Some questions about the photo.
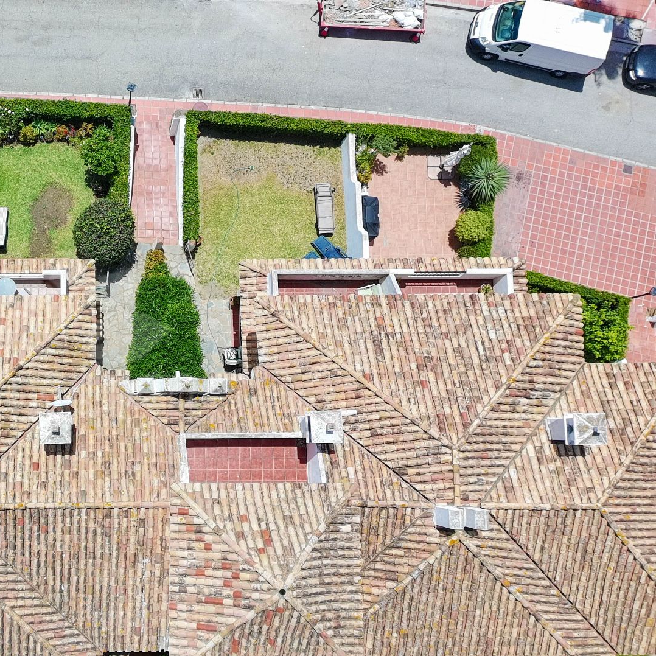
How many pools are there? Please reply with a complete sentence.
No pools are visible.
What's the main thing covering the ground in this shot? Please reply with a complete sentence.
The bulk of the photo consists of buildings.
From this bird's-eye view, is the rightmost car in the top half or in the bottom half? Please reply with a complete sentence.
You can find the rightmost car in the top half.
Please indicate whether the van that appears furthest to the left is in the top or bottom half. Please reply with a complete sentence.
You can find the van that appears furthest to the left in the top half.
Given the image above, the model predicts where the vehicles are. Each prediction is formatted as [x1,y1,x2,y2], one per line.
[618,50,656,102]
[454,0,612,81]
